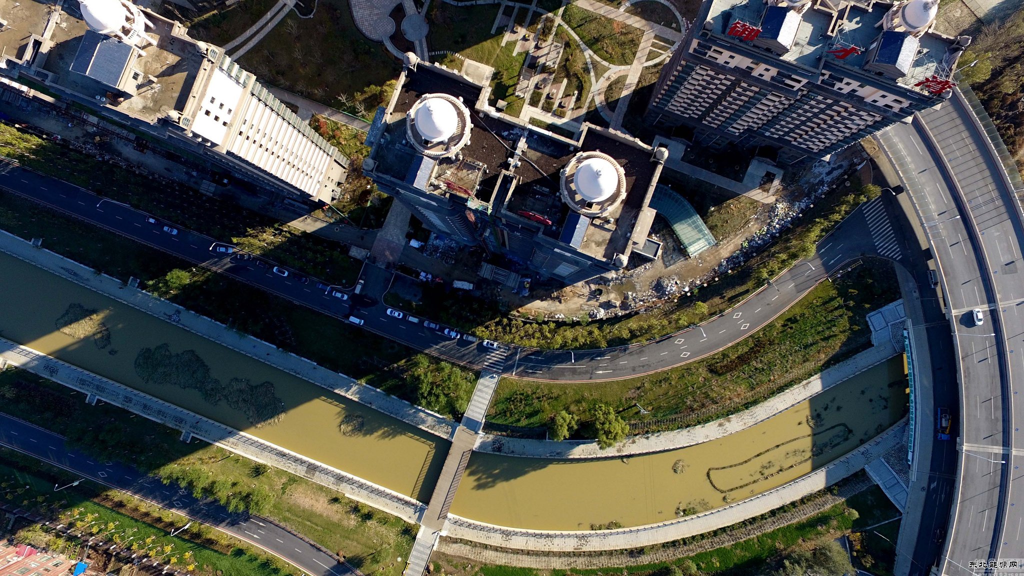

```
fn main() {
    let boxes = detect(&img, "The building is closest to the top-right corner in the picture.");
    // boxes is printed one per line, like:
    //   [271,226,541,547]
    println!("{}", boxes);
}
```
[629,0,976,184]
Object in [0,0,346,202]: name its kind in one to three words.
building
